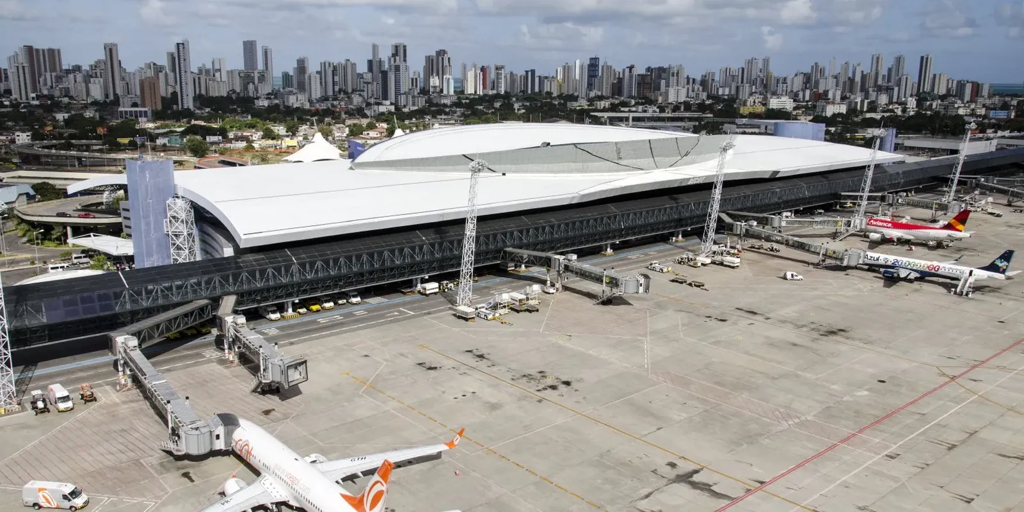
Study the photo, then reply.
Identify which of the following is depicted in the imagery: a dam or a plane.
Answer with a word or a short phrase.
plane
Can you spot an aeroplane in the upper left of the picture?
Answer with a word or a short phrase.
No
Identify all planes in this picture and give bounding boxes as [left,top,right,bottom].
[842,247,1018,279]
[846,209,974,242]
[190,423,461,512]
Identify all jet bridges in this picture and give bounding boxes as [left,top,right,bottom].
[714,211,854,270]
[937,175,1024,199]
[727,209,865,242]
[833,191,967,222]
[214,292,314,397]
[509,244,652,305]
[108,293,239,470]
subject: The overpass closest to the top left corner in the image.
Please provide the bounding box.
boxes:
[15,137,284,168]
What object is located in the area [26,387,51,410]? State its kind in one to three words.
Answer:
work vehicle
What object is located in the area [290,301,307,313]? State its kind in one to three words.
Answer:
vehicle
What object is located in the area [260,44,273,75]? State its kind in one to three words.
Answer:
building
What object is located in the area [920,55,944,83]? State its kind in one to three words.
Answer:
building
